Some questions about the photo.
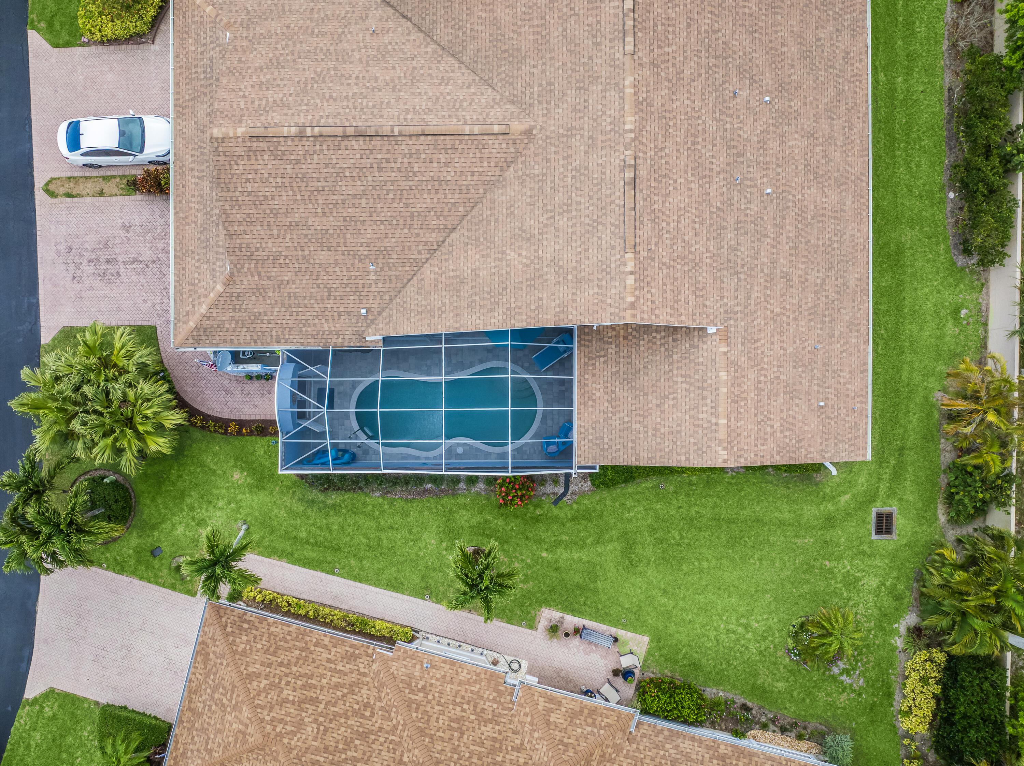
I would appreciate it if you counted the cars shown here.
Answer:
one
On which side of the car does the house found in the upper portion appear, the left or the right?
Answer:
on the right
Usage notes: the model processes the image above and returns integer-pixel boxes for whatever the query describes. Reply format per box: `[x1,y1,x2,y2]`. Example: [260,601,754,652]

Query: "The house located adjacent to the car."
[170,0,871,471]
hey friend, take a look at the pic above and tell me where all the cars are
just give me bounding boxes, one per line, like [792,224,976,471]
[54,107,170,168]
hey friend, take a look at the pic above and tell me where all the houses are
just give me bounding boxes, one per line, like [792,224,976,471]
[162,598,841,766]
[170,0,871,471]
